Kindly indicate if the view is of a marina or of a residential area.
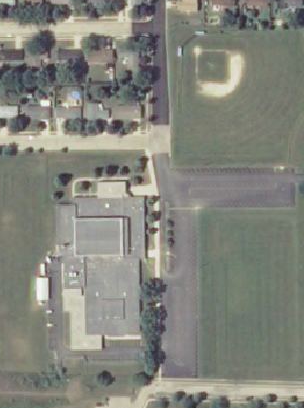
residential area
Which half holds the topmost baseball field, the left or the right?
right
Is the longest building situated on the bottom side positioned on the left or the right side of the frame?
left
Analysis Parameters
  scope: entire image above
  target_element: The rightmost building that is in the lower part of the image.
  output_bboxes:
[56,181,146,351]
